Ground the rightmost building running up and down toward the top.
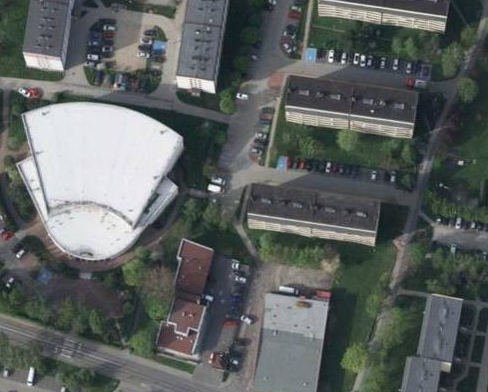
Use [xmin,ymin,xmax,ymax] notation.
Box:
[176,0,229,93]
